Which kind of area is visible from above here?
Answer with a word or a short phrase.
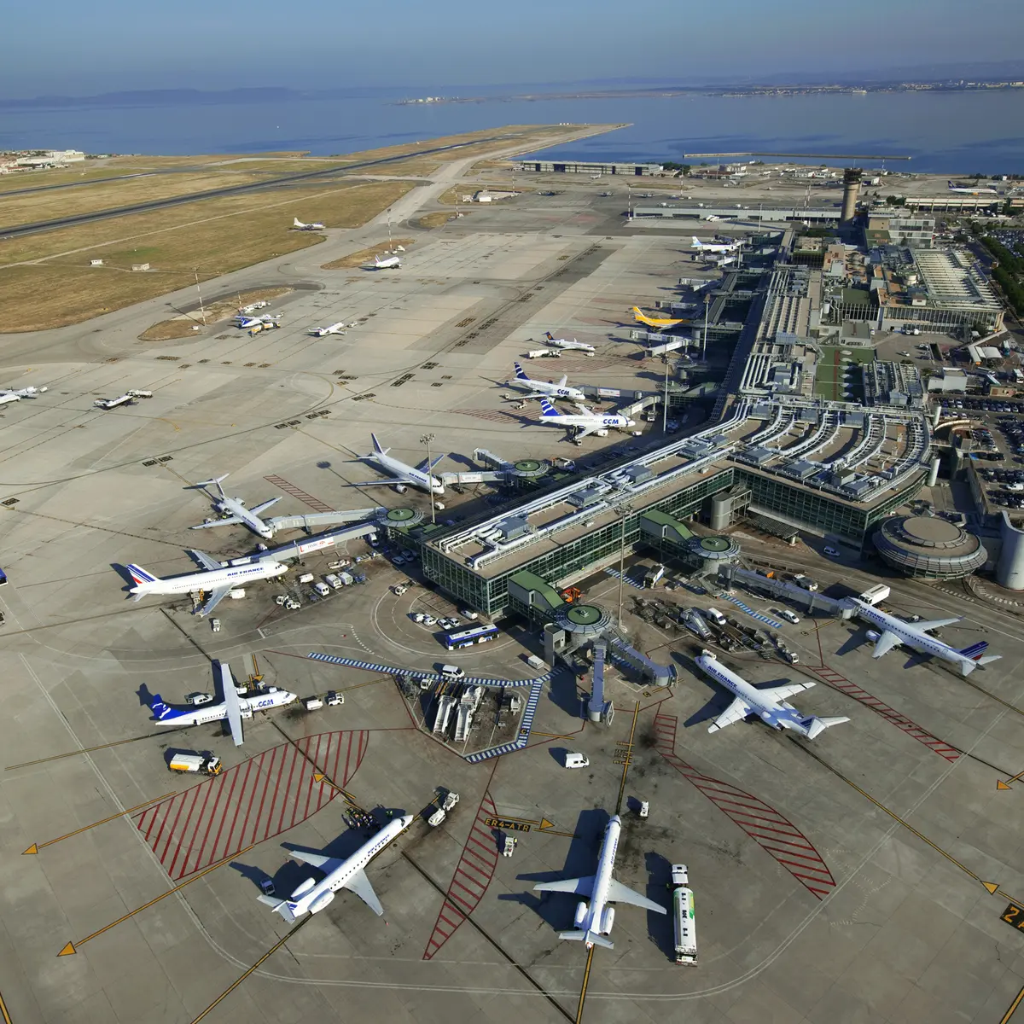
airport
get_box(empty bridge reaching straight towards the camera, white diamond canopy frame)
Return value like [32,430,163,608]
[577,635,621,728]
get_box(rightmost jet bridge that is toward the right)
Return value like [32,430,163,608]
[724,557,868,624]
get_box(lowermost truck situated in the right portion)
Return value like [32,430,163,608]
[671,859,694,963]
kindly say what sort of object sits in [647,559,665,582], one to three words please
vehicle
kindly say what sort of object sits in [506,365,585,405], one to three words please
airplane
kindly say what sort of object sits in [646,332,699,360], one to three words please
jet bridge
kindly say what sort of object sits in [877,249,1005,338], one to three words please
building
